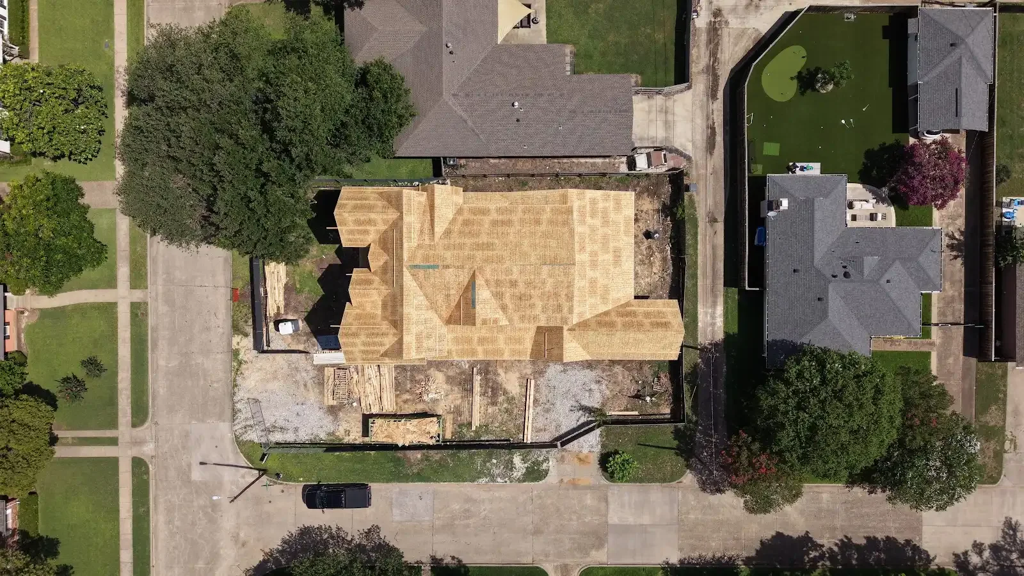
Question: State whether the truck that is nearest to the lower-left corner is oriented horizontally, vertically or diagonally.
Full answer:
Seen from above, the truck that is nearest to the lower-left corner lies horizontally.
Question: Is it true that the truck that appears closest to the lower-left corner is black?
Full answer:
Yes, black is the color of the truck that appears closest to the lower-left corner.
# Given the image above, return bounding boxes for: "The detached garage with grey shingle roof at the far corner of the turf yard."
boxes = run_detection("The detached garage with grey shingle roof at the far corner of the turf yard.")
[896,8,994,133]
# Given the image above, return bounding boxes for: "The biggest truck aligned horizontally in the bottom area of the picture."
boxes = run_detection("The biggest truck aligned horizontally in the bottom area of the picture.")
[302,486,374,518]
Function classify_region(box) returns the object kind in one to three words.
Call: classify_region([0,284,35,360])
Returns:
house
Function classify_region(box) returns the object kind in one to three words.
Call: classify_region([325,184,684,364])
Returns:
house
